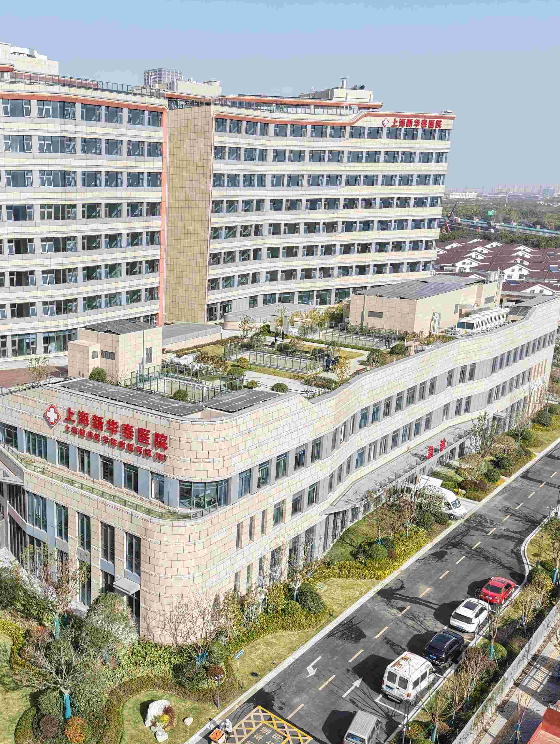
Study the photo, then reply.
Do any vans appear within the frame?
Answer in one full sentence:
Yes, the image includes a van.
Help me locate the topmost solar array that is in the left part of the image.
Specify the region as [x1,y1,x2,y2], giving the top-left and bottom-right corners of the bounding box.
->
[78,309,164,338]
